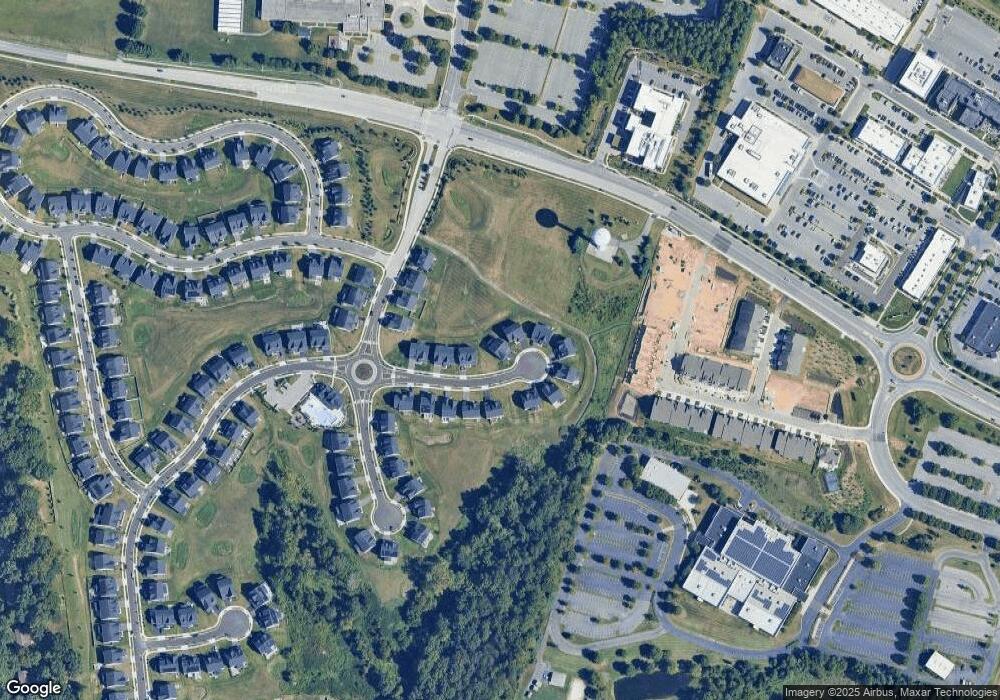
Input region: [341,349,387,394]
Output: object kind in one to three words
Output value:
roundabout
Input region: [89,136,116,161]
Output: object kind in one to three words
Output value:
house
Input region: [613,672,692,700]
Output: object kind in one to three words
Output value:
pond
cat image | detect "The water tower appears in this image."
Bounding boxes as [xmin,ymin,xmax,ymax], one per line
[592,228,610,253]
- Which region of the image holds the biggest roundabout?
right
